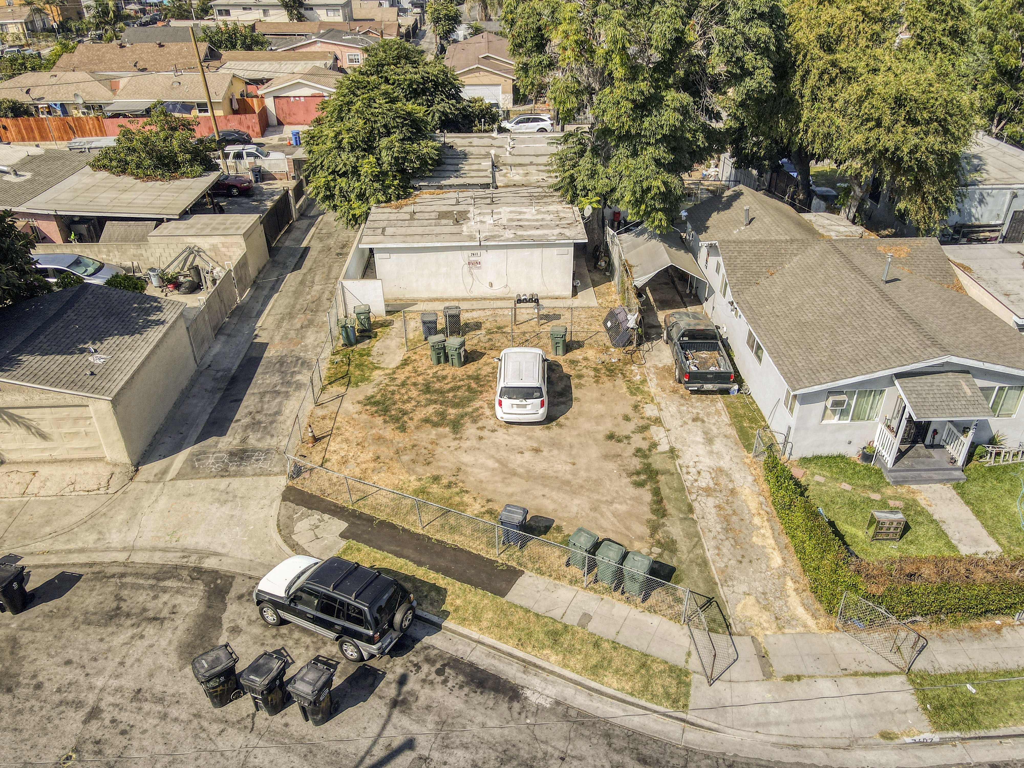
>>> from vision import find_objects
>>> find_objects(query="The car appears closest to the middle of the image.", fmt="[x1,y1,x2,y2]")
[488,342,549,423]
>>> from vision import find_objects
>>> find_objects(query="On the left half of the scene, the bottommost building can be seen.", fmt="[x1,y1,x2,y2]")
[0,280,197,468]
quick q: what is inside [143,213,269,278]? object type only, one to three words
shed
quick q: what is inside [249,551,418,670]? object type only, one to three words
car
